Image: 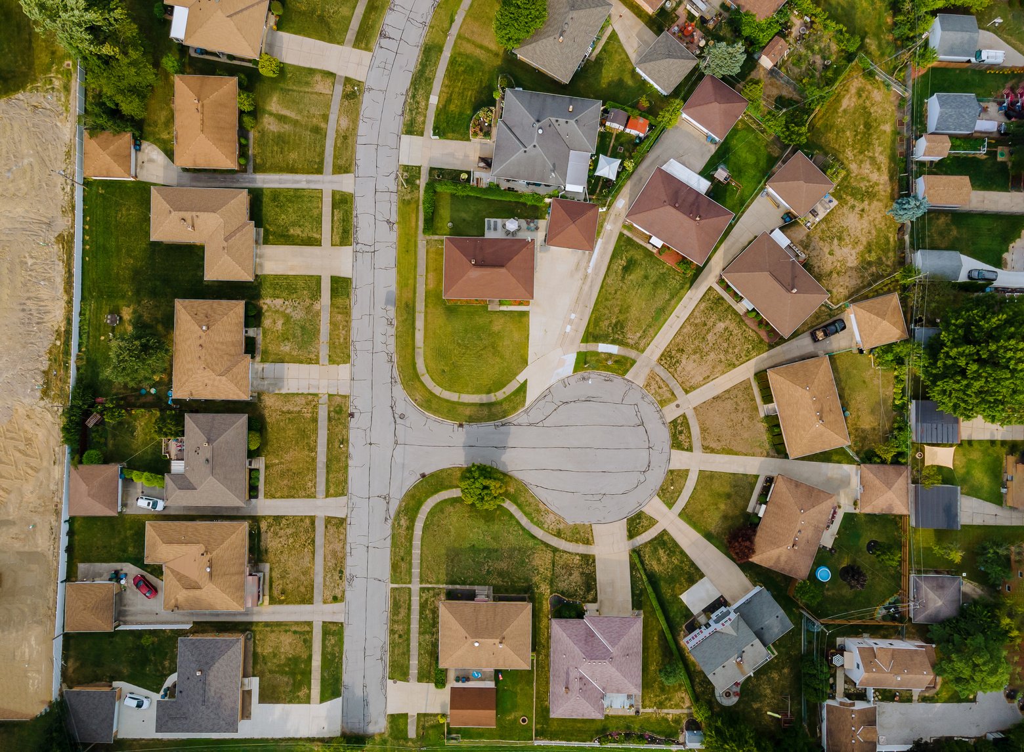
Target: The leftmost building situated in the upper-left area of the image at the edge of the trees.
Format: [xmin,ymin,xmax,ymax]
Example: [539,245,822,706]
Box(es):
[83,130,137,179]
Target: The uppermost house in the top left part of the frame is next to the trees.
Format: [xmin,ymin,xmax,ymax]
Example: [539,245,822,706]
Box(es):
[162,0,273,62]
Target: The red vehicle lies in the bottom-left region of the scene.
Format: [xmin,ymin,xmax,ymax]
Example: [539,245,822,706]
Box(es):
[130,573,157,602]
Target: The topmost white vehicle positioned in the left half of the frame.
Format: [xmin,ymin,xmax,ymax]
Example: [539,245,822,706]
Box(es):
[132,496,164,512]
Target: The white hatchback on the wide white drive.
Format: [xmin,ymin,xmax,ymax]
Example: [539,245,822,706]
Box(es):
[120,694,150,712]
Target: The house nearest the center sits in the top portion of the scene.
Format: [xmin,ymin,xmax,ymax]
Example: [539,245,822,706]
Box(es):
[443,237,535,301]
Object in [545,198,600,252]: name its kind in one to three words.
building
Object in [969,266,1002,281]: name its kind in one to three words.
car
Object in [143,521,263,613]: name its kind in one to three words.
house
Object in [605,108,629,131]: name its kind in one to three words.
shed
